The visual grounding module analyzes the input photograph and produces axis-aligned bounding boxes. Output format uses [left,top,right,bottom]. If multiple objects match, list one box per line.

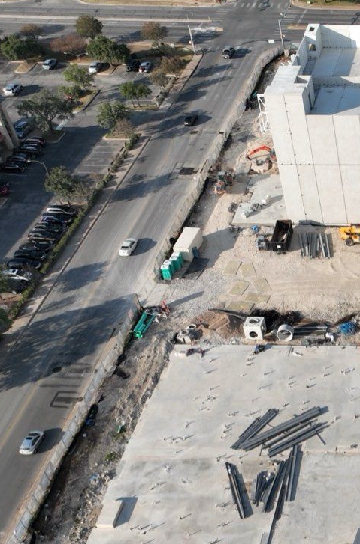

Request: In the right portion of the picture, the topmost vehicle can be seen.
[222,46,236,58]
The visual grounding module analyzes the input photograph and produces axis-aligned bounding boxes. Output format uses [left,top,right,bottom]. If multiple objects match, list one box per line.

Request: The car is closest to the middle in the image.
[116,240,140,256]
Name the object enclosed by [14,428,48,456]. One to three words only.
car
